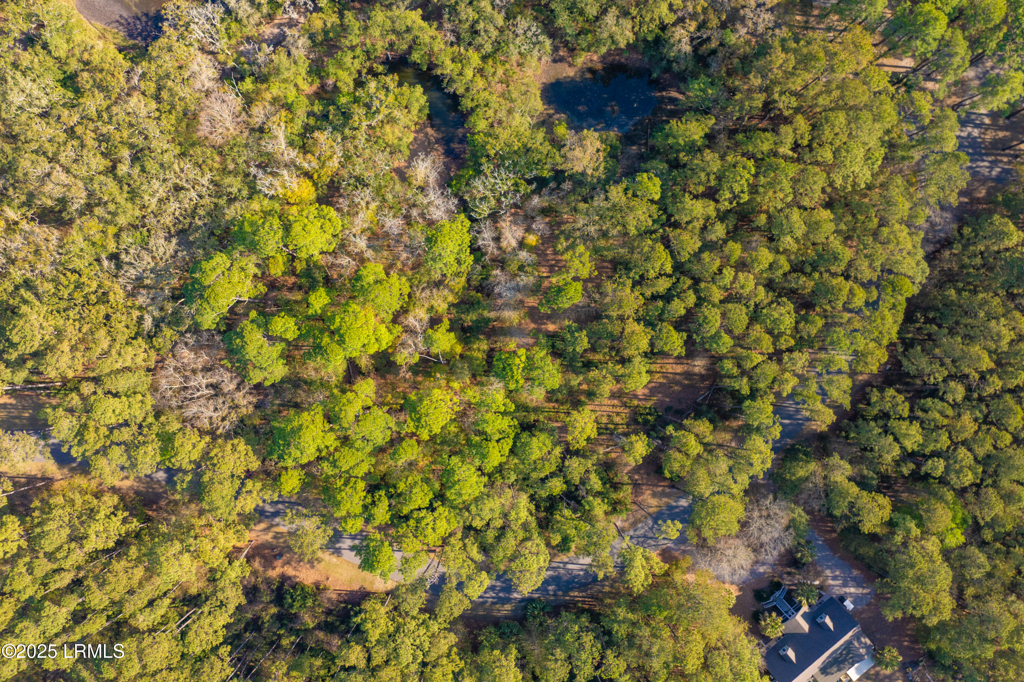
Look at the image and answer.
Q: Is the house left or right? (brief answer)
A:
right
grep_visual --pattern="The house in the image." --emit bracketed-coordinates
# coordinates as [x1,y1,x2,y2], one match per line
[758,588,877,682]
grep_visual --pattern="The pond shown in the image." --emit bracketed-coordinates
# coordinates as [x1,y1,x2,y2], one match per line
[545,65,657,131]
